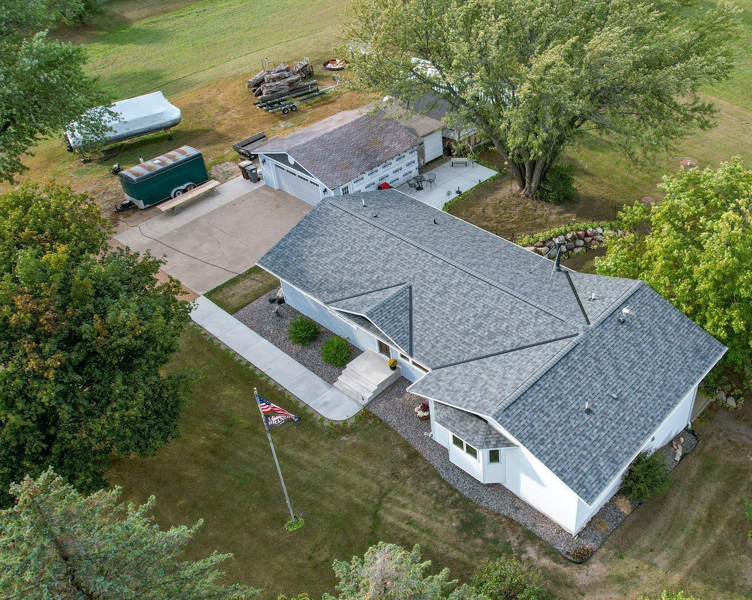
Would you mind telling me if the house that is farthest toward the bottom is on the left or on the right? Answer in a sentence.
The house that is farthest toward the bottom appears in the right half of the scene.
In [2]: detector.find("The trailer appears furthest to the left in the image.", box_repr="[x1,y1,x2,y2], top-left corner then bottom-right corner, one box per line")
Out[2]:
[111,145,210,214]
